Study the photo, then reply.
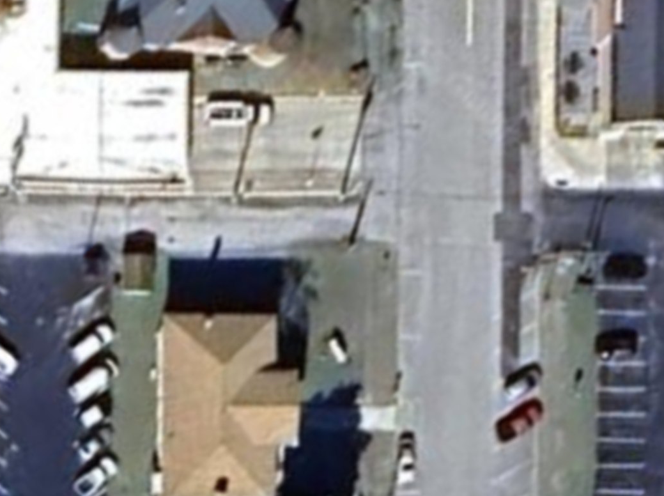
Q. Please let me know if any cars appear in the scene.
Yes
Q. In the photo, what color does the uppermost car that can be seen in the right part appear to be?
black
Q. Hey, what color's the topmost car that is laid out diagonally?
white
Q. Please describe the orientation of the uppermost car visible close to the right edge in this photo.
from left to right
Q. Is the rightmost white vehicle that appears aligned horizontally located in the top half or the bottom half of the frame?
top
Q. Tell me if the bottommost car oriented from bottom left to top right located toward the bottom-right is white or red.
red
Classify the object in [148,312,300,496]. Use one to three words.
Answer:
house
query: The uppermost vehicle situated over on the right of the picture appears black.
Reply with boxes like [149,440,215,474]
[601,255,649,279]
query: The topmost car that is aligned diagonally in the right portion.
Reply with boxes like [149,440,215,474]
[499,361,546,399]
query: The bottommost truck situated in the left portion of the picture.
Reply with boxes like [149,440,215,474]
[67,454,122,496]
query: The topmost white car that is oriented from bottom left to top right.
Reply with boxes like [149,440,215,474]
[67,318,119,360]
